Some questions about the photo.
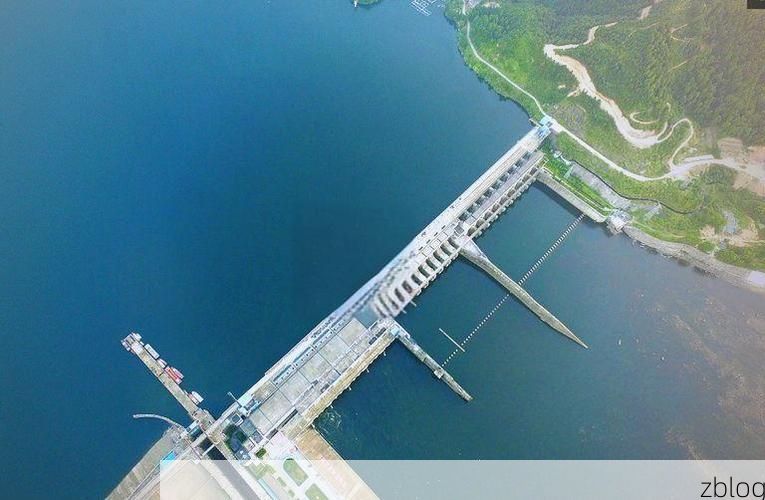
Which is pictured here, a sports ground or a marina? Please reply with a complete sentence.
The area seen from above is a marina.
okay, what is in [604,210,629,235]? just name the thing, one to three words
building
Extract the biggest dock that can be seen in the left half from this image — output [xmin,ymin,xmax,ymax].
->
[125,338,217,431]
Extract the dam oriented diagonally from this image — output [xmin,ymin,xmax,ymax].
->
[130,125,551,500]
